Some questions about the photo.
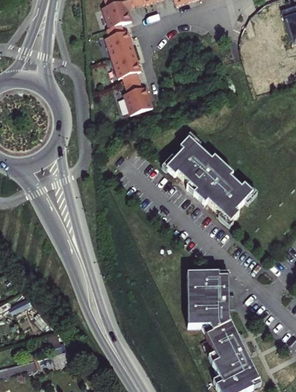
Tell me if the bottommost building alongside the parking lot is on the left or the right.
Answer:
right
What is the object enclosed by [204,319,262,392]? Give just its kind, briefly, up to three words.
building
